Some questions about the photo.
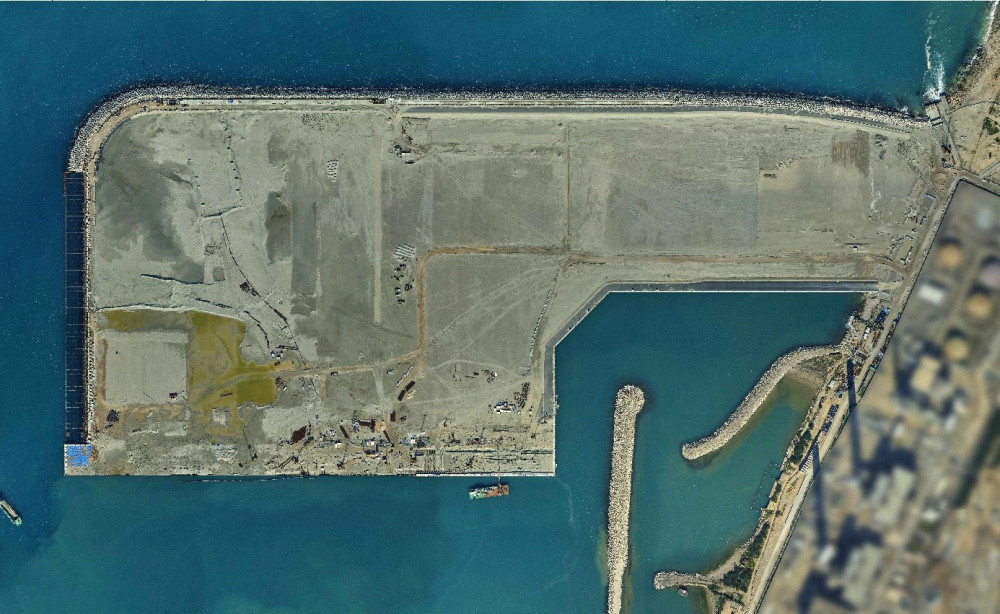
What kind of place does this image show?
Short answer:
port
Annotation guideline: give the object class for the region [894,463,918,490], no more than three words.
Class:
building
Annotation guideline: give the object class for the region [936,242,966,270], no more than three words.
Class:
storage tank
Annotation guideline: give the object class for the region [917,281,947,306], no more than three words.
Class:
shed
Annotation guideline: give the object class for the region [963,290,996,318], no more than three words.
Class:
storage tank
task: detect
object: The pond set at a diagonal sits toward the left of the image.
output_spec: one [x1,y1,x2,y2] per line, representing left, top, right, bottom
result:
[101,309,275,406]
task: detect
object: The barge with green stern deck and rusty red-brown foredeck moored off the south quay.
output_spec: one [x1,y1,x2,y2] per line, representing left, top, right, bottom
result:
[469,483,509,500]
